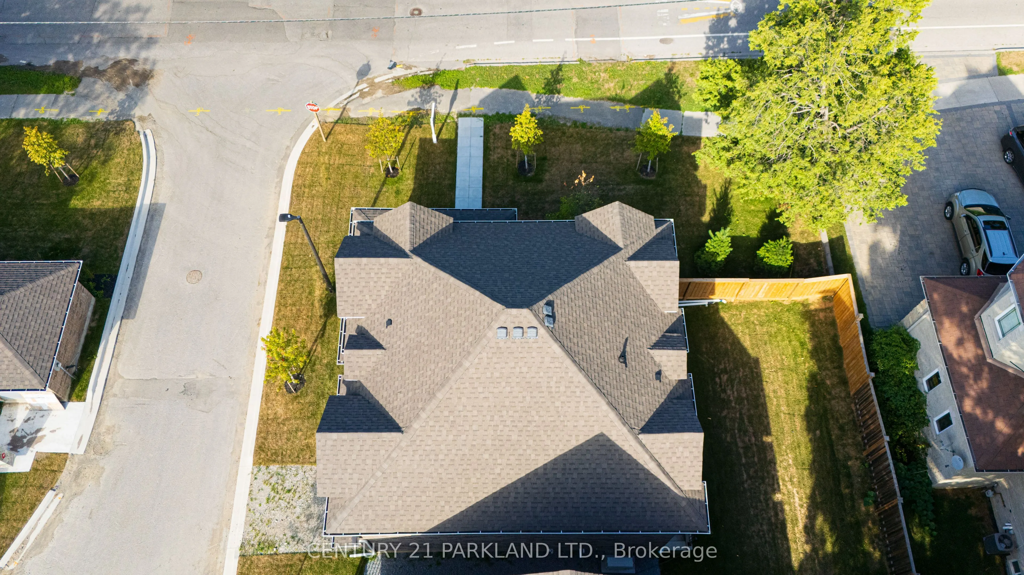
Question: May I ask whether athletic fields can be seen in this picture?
No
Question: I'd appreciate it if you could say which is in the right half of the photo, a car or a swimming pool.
car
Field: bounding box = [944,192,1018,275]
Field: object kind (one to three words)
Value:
car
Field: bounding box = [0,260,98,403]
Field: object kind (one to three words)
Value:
building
